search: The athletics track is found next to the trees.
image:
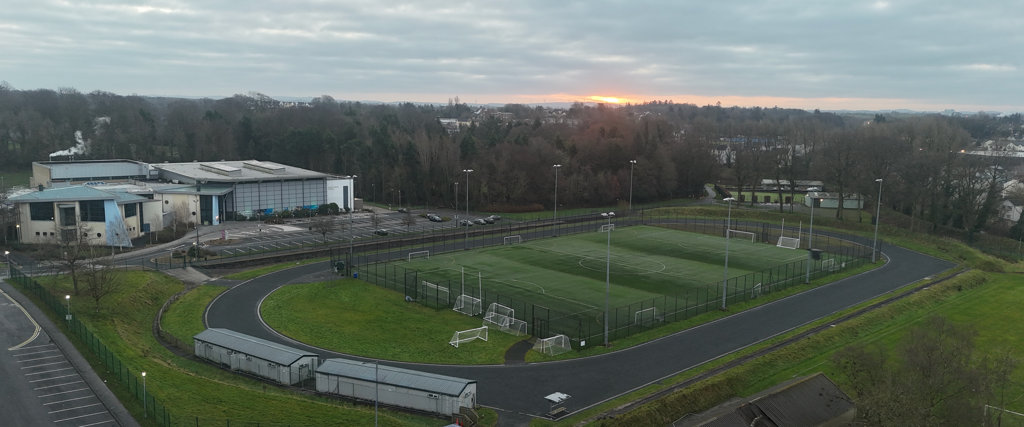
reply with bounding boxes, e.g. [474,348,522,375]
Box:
[206,219,956,420]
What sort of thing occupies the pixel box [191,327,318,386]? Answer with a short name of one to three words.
shed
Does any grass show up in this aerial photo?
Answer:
Yes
